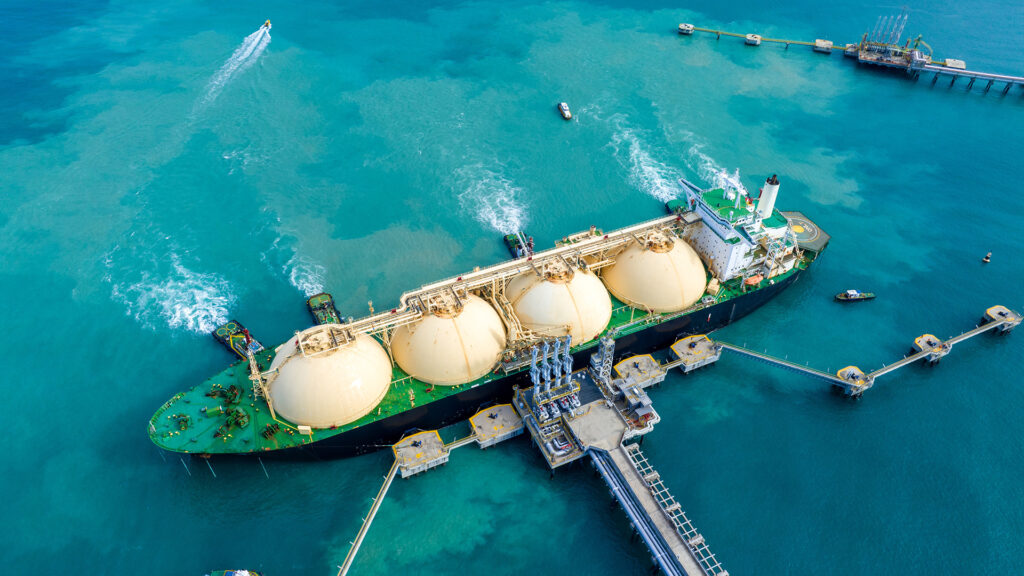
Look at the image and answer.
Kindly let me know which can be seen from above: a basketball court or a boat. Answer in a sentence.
There is a boat in the scene.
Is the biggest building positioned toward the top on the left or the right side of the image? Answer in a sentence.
It is on the right.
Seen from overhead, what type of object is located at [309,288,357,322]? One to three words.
boat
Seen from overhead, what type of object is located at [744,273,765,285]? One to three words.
boat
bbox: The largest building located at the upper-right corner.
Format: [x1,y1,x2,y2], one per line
[909,50,933,78]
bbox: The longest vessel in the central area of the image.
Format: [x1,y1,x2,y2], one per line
[147,169,831,467]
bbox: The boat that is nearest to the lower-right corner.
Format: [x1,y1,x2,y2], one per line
[835,288,877,301]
